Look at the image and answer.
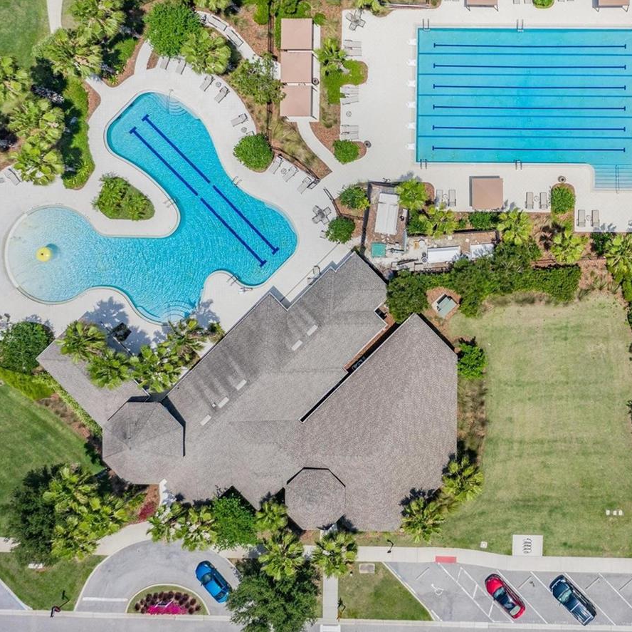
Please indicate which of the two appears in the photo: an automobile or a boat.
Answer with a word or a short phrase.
automobile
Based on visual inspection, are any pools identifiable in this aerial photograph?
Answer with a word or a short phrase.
Yes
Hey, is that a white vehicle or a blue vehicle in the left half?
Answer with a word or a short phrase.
blue vehicle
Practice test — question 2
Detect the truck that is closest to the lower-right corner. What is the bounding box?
[545,570,600,631]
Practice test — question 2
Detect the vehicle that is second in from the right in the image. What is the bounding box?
[482,569,529,622]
